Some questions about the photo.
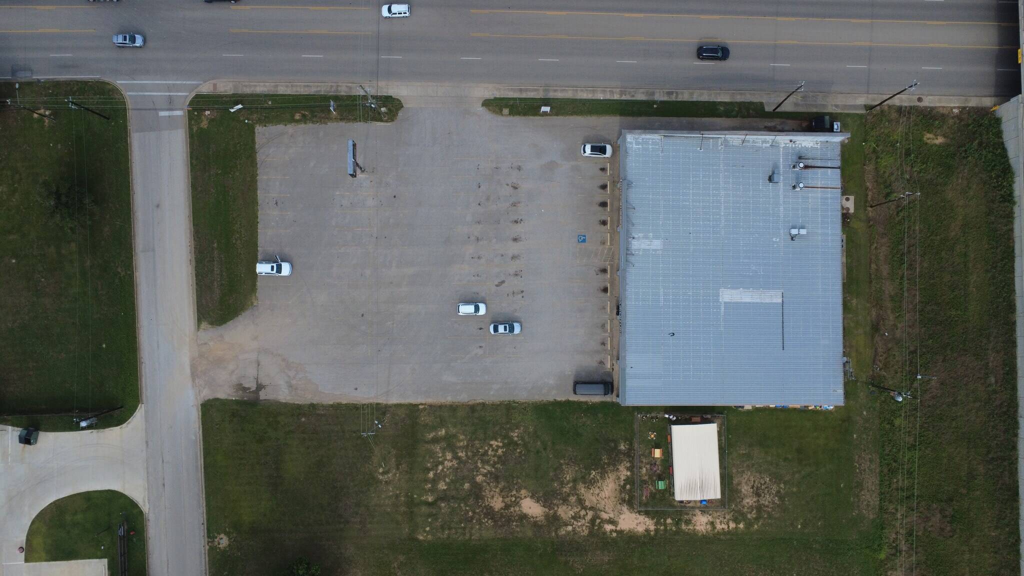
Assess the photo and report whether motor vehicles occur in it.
Yes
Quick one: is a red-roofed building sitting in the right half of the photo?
No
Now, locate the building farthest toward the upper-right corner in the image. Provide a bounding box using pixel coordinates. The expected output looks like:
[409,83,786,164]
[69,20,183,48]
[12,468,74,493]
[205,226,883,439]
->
[614,131,850,407]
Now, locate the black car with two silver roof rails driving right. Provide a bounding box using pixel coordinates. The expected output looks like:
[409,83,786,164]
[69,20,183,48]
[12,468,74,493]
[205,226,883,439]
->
[696,45,729,61]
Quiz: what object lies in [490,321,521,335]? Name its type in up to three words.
car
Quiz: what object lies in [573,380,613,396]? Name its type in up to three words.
vehicle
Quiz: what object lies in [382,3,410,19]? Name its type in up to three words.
car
